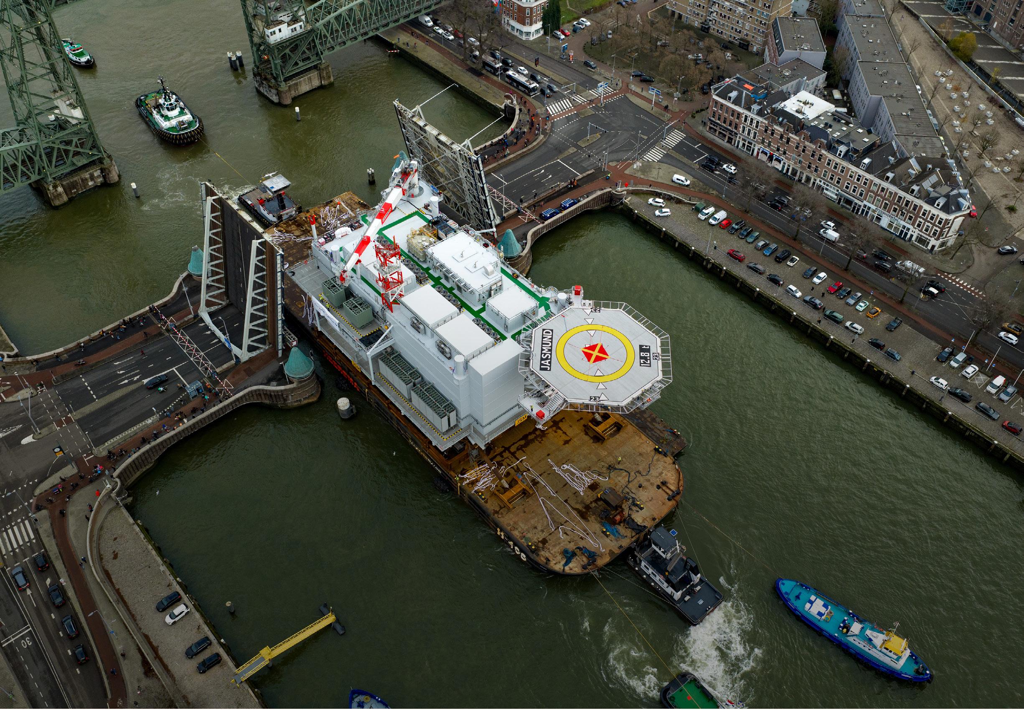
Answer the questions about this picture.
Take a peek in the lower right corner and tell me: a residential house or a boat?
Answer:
boat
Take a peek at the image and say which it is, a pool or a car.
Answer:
car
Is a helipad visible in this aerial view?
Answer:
Yes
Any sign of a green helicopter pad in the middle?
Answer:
No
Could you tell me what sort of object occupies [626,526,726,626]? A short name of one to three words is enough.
boat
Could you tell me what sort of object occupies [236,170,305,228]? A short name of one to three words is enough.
boat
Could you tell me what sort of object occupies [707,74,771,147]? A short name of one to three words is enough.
house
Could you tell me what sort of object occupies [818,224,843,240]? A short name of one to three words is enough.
vehicle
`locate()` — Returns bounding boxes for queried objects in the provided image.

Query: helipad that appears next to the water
[496,282,672,427]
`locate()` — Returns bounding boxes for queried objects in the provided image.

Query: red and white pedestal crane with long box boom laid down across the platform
[334,151,423,280]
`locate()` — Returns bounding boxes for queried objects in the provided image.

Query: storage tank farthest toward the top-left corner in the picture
[408,226,438,260]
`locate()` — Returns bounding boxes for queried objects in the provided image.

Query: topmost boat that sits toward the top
[58,30,96,68]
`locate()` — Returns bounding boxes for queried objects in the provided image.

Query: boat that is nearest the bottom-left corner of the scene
[349,688,391,710]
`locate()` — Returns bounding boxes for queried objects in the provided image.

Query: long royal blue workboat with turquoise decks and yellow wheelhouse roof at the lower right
[775,575,939,686]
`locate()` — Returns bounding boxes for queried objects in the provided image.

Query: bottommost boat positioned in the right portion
[657,668,738,710]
